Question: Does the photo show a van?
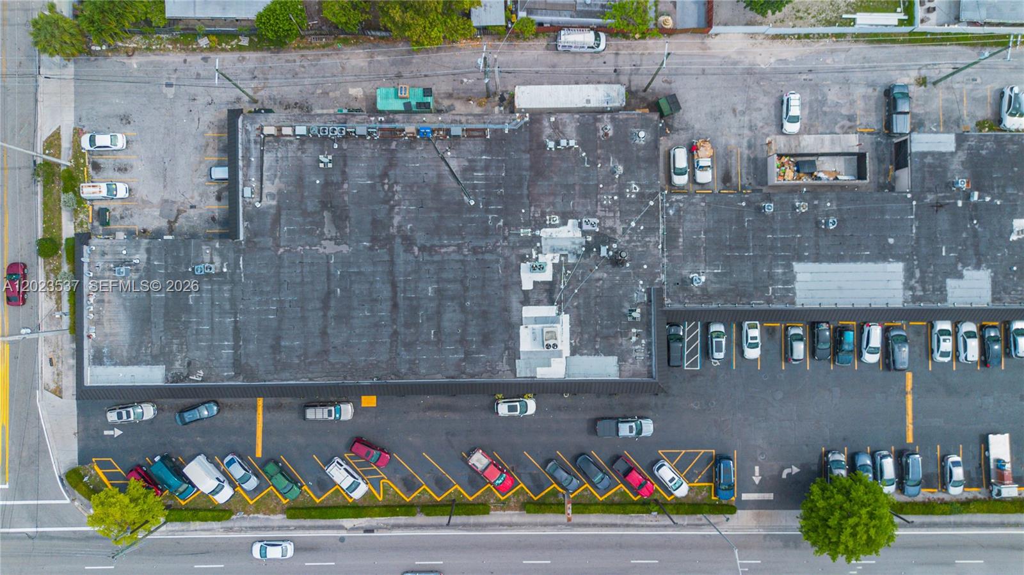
Yes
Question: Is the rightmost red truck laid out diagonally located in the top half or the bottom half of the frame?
bottom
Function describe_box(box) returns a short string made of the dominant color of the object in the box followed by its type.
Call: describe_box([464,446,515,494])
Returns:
red truck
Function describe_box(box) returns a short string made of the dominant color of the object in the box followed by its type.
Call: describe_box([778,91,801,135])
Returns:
white car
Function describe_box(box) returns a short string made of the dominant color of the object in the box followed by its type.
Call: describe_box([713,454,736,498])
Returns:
blue car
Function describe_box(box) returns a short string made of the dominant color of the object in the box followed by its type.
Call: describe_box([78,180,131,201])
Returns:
white vehicle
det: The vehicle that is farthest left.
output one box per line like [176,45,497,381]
[3,263,30,305]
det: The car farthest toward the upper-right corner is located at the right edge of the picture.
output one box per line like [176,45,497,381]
[998,85,1024,132]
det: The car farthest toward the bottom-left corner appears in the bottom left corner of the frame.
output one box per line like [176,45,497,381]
[124,461,168,502]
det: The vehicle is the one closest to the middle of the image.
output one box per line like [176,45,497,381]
[495,396,537,418]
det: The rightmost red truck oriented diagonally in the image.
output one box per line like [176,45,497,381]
[608,452,656,500]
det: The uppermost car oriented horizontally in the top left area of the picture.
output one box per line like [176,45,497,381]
[82,131,129,152]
